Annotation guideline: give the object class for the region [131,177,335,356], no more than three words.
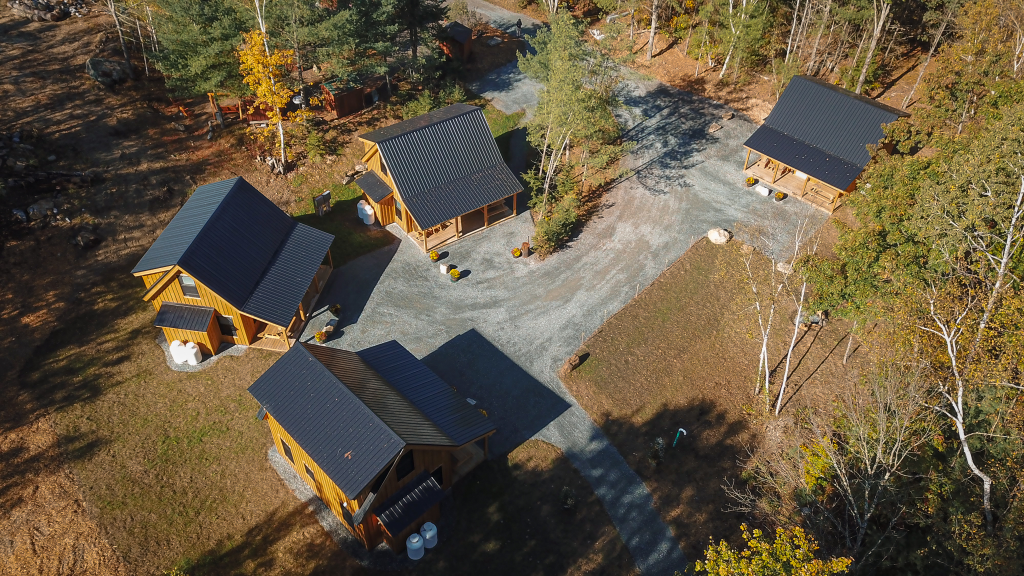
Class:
building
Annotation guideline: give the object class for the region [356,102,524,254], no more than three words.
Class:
building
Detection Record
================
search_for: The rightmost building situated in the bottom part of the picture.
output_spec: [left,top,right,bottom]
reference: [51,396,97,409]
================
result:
[248,341,497,557]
